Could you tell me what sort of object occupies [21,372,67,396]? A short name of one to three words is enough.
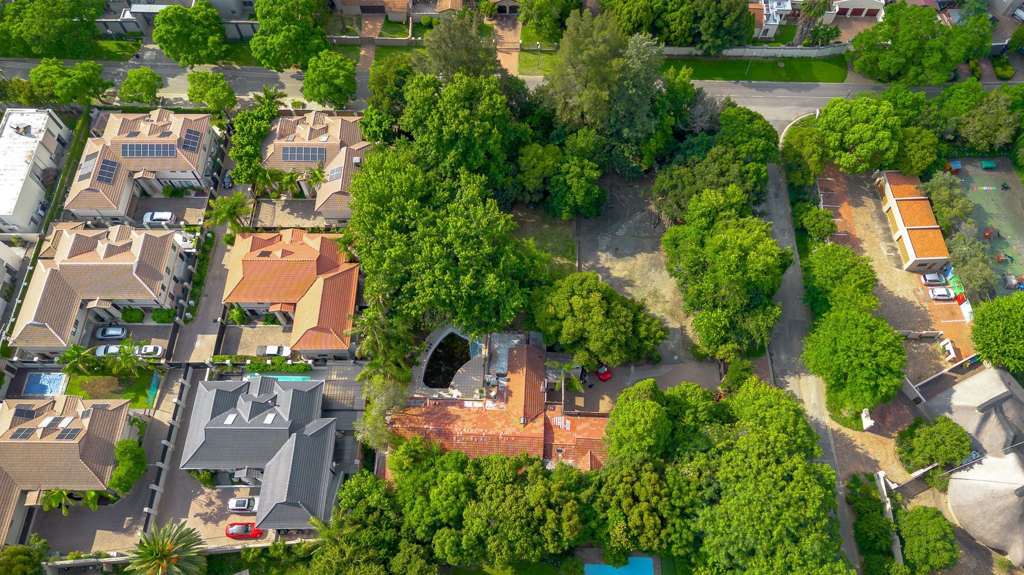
swimming pool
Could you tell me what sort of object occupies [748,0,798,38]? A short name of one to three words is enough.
house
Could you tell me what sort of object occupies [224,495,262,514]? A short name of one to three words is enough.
car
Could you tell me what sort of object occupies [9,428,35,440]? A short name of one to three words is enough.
solar panel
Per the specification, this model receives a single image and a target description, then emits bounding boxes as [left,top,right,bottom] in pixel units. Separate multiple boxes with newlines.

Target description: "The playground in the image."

[939,156,1024,308]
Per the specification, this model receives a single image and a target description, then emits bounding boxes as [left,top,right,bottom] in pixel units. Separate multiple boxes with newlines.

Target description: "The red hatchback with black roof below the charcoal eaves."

[224,520,265,539]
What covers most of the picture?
trees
